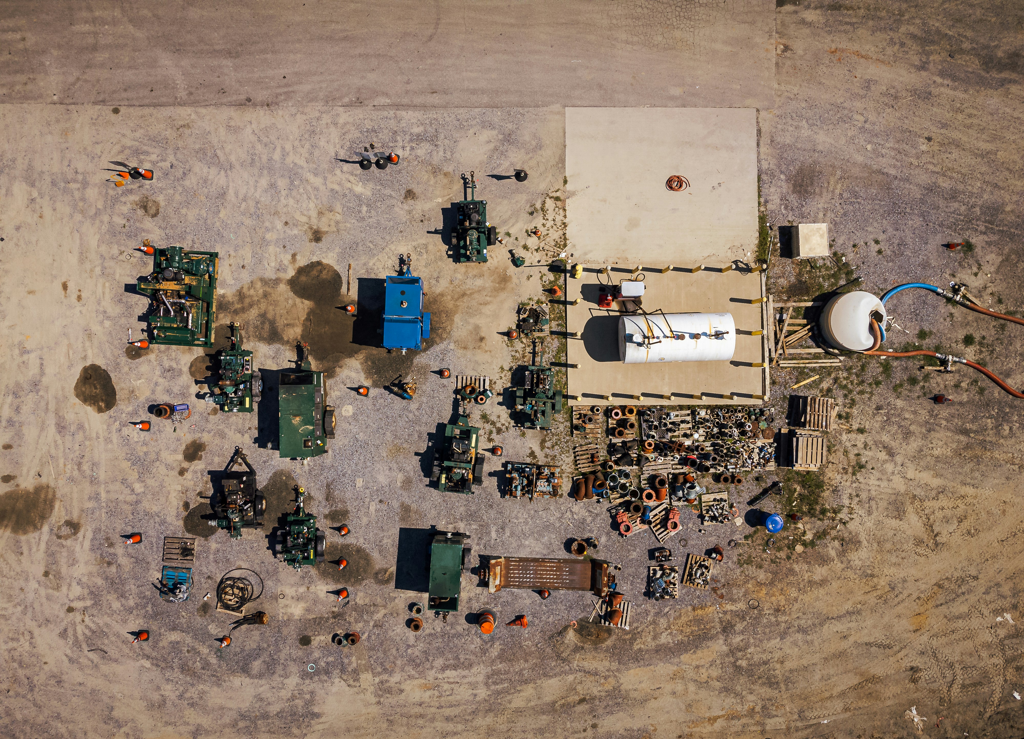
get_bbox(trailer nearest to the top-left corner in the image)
[204,322,263,412]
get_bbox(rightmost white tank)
[820,293,909,349]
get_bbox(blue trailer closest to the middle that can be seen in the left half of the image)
[380,253,430,355]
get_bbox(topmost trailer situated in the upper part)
[453,171,496,263]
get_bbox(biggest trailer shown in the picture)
[267,342,335,466]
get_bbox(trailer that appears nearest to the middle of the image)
[512,338,562,431]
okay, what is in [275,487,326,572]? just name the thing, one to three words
trailer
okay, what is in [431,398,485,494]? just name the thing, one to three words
trailer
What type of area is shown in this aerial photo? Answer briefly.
industrial area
